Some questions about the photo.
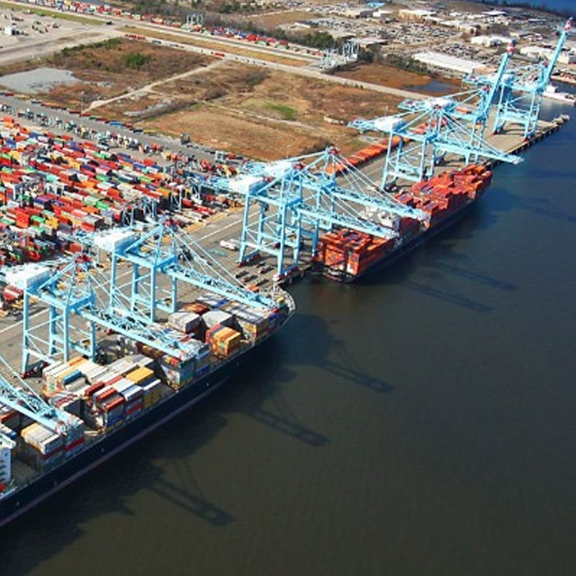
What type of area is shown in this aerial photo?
port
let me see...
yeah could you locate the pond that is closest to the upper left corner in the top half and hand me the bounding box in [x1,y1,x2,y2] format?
[0,68,109,93]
